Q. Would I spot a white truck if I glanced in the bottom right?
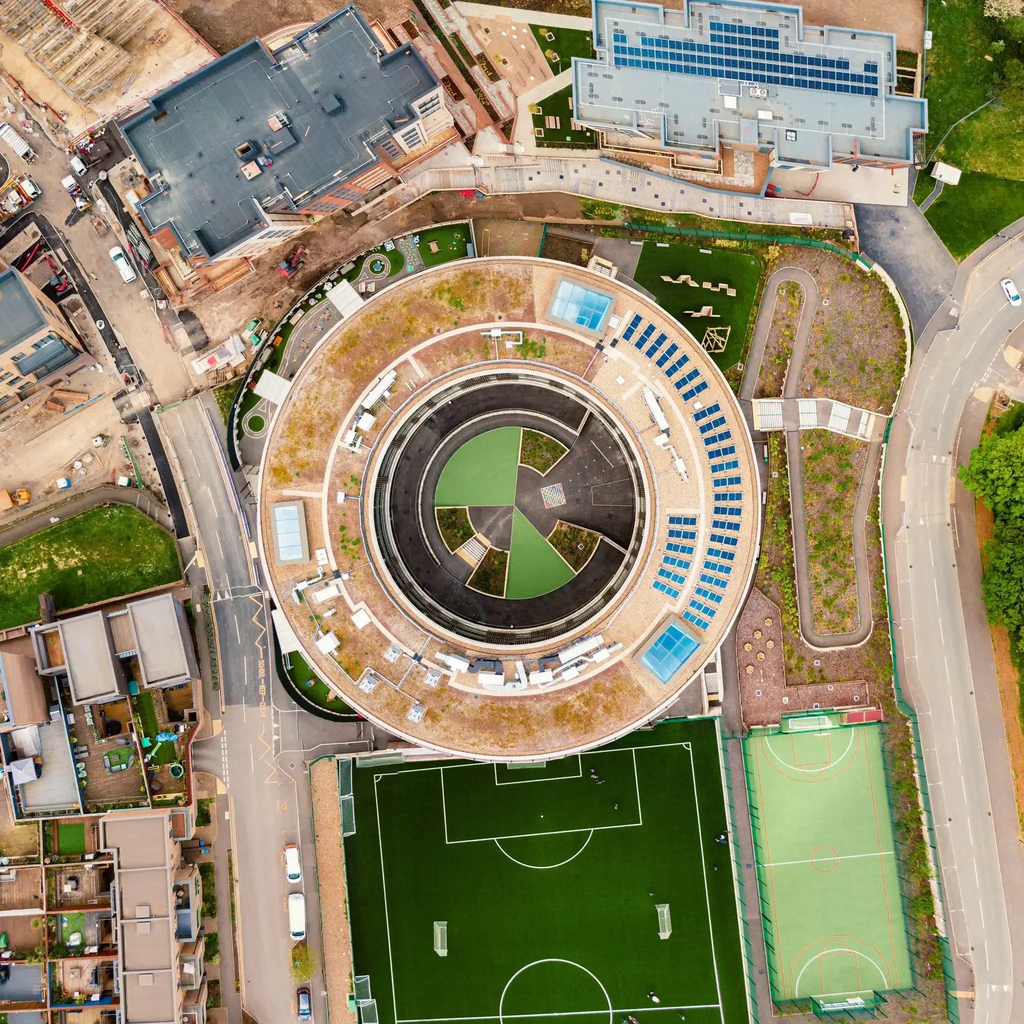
No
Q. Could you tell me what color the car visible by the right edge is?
white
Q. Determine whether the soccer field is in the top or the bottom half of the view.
bottom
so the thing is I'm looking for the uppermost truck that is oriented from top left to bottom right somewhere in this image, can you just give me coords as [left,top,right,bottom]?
[0,115,39,172]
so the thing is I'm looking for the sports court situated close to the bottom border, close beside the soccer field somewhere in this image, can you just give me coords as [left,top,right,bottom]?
[744,714,913,999]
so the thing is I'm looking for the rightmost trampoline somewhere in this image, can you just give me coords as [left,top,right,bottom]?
[106,718,124,735]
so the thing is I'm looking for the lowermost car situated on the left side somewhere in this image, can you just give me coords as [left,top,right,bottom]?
[294,985,313,1021]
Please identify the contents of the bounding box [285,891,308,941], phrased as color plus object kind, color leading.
white vehicle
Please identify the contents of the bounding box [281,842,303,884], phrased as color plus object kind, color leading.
white vehicle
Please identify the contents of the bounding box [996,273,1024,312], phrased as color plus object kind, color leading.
white car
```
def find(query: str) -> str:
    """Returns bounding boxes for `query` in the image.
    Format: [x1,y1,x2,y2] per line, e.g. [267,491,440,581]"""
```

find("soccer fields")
[344,718,749,1024]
